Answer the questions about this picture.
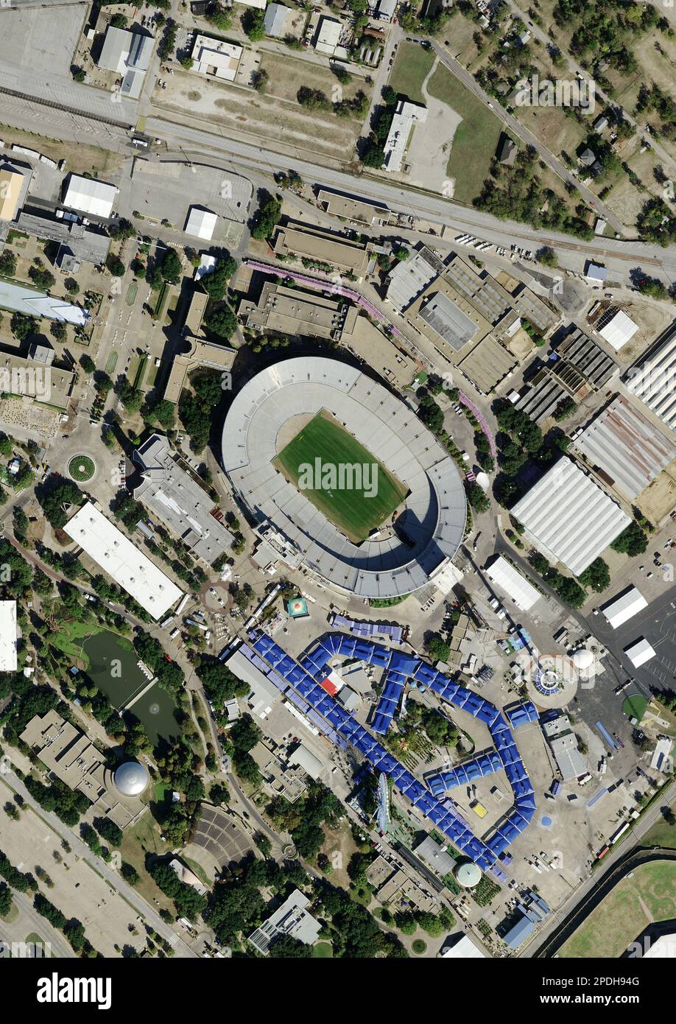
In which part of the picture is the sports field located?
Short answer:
center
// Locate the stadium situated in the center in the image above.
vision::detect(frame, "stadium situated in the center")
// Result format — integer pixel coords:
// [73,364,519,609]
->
[216,355,467,598]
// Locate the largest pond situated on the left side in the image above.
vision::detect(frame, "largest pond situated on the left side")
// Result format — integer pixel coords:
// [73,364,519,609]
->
[72,629,186,746]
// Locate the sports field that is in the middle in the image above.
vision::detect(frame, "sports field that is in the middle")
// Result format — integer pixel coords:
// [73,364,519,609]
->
[275,411,407,542]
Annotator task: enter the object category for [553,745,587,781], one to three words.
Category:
building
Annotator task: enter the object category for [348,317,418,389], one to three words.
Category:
building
